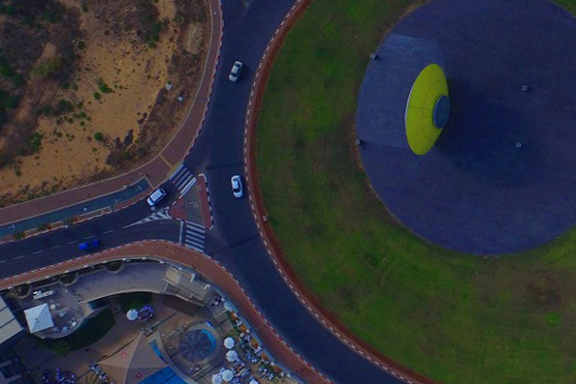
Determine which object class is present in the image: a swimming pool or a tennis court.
swimming pool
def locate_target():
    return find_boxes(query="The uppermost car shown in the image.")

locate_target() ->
[228,61,241,81]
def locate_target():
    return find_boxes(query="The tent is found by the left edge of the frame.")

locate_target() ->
[22,301,57,334]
